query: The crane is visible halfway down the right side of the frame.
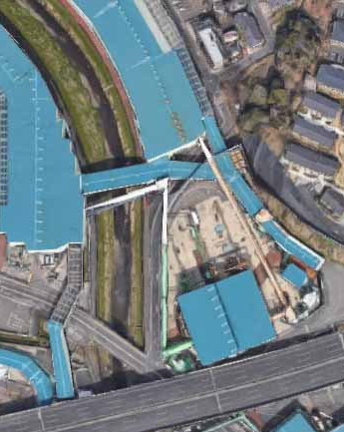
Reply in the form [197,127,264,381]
[199,139,302,324]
